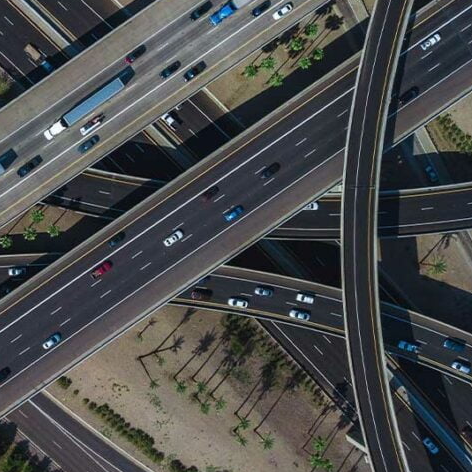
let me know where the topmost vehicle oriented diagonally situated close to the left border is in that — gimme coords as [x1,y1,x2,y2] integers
[23,44,50,70]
